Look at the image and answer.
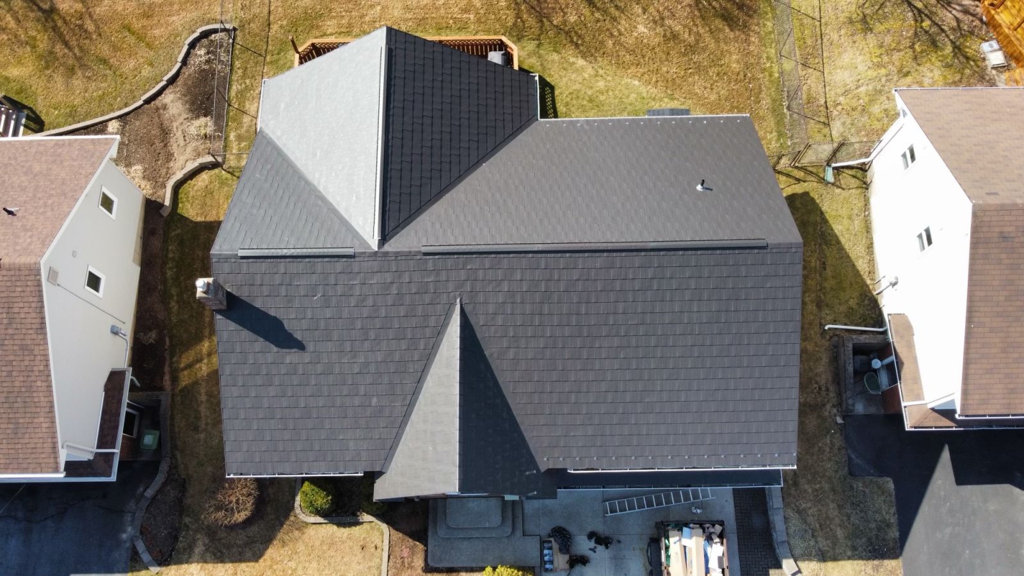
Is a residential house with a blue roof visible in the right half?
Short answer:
No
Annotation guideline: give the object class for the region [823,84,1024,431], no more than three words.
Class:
house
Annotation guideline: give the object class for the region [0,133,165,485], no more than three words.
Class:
house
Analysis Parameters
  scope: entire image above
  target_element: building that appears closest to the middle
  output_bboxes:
[193,25,803,505]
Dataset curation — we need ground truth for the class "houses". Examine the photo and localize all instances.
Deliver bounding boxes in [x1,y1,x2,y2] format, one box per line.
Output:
[823,84,1024,431]
[0,133,165,485]
[193,25,803,505]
